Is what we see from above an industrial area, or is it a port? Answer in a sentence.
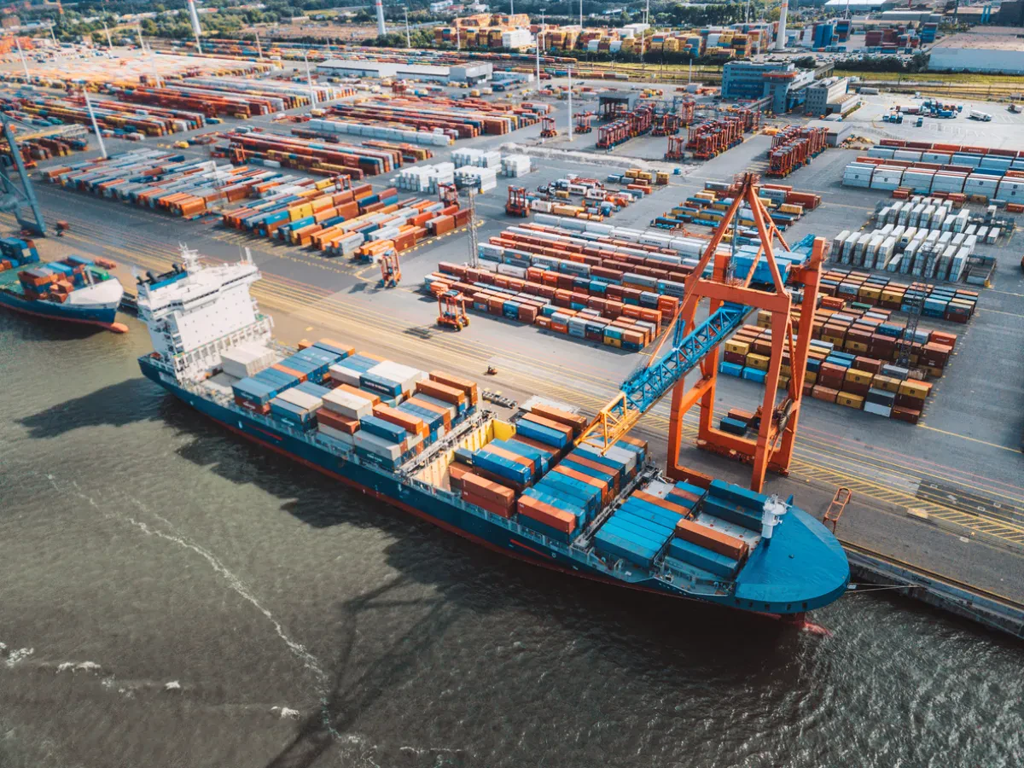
The picture captures a port.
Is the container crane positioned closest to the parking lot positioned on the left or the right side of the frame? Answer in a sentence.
It is on the right.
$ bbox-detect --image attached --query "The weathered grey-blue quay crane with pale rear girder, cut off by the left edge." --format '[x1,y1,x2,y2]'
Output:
[0,89,107,247]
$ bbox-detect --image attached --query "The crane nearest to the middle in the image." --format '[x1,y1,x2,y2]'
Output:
[567,164,826,492]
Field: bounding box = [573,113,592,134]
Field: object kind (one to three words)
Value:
work vehicle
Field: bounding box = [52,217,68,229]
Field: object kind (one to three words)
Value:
vehicle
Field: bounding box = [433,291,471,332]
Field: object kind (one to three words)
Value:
work vehicle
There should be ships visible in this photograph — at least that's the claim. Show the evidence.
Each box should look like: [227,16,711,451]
[0,246,131,333]
[123,239,916,634]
